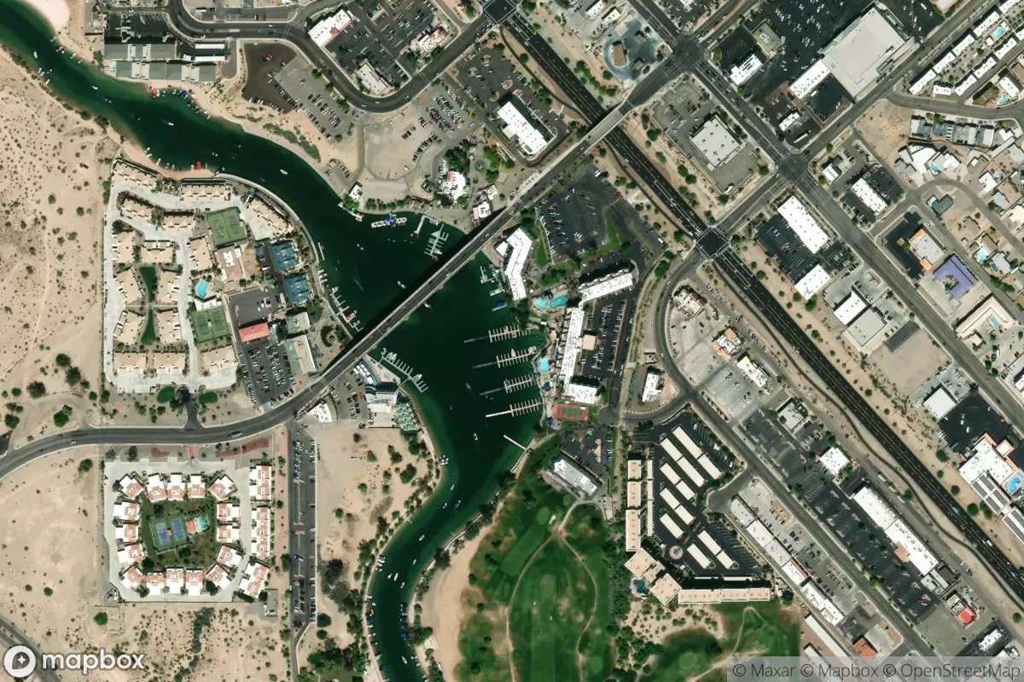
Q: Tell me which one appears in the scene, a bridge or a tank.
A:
bridge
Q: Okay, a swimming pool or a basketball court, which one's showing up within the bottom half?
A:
swimming pool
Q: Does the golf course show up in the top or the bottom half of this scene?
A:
bottom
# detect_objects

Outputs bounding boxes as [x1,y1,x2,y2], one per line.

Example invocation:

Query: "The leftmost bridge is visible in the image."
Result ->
[363,227,494,348]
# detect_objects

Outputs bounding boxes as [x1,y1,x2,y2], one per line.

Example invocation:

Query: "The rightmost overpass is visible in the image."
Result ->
[585,109,626,148]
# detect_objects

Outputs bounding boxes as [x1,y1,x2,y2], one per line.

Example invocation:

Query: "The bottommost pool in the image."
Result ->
[631,577,652,597]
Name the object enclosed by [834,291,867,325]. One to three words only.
building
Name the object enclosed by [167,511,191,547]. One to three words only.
tennis court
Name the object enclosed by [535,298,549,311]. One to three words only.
swimming pool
